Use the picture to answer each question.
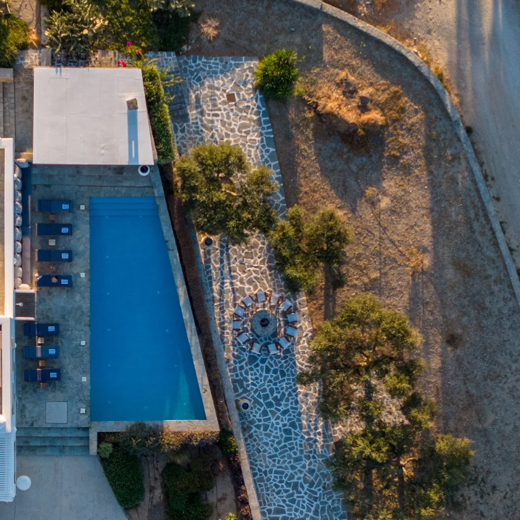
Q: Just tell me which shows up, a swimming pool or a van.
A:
swimming pool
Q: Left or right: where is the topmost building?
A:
left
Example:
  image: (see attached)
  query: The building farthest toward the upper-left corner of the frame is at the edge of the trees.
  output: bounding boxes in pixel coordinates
[33,67,154,167]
